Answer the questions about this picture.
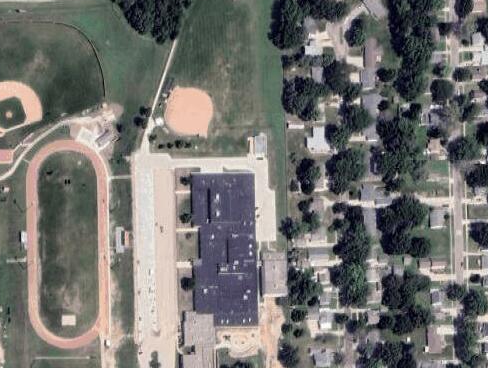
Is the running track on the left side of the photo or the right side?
left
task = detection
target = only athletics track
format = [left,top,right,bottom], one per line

[26,140,111,368]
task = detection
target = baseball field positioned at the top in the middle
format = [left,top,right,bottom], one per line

[166,0,261,153]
